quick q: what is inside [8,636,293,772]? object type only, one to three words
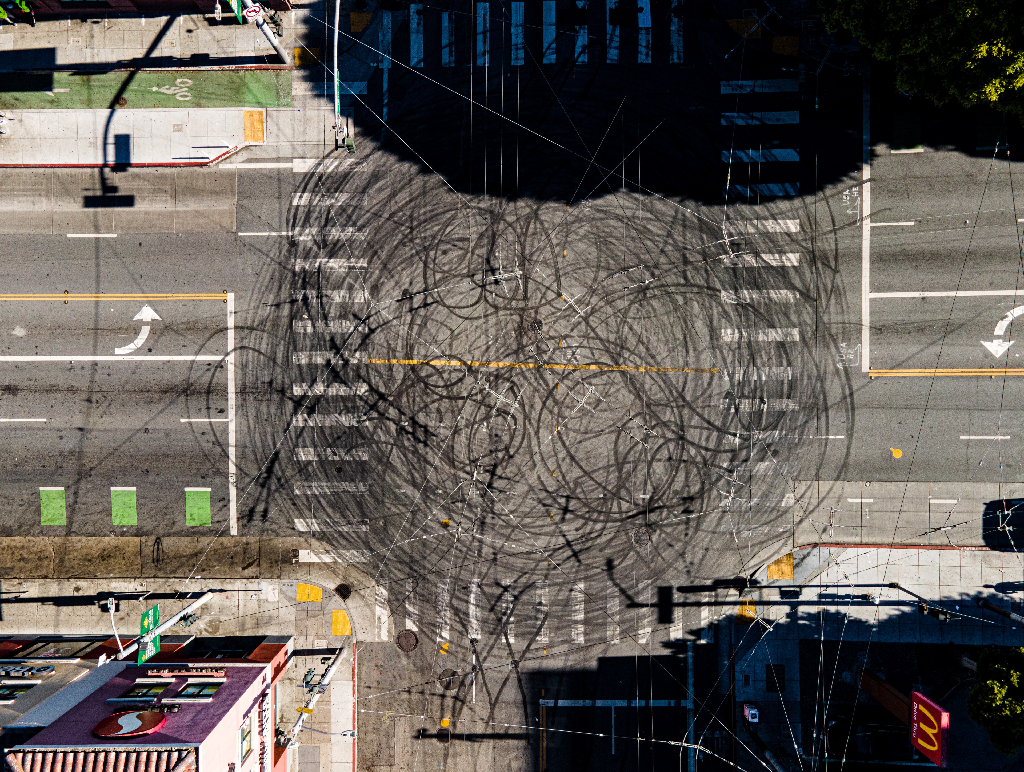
building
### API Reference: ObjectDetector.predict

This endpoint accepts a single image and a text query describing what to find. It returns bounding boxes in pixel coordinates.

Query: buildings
[0,0,292,10]
[8,636,293,772]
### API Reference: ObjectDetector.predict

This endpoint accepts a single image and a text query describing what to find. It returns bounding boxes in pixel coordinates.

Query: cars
[822,717,914,765]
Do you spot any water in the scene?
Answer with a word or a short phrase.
No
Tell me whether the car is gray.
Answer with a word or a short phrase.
No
